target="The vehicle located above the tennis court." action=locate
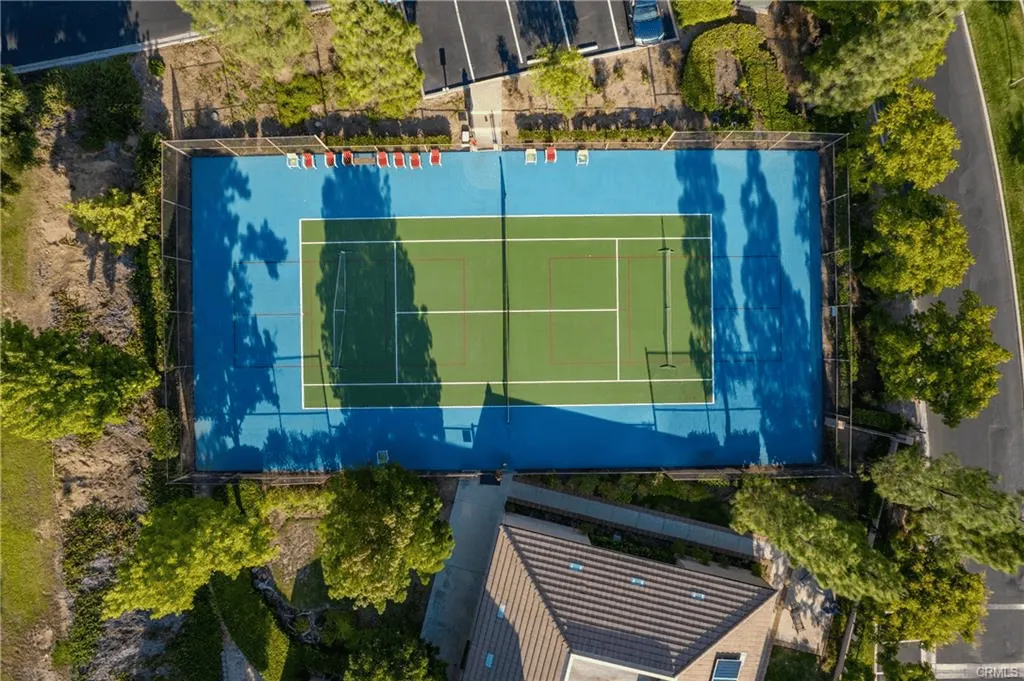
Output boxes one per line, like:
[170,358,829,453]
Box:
[627,0,667,48]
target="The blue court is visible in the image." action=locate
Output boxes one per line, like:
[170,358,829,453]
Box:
[191,150,823,471]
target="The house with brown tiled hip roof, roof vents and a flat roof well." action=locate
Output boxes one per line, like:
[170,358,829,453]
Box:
[464,523,779,681]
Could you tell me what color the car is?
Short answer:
blue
